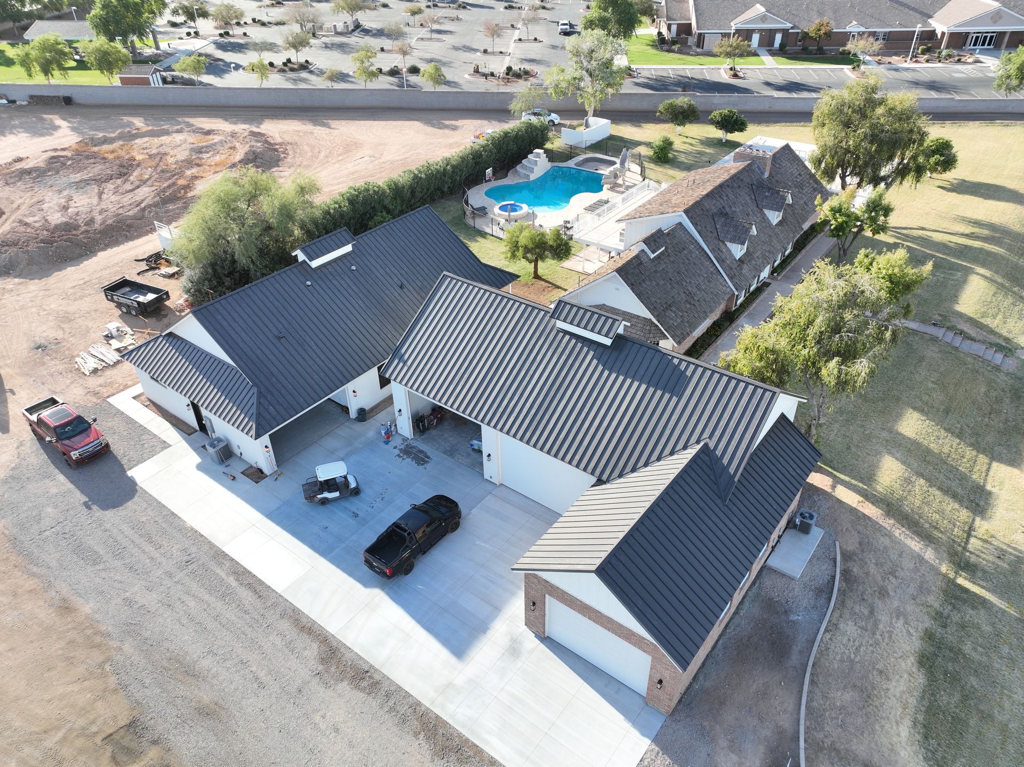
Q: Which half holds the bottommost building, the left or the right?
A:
right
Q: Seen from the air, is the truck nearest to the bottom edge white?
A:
No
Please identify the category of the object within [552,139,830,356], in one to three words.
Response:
house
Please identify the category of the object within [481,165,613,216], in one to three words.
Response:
swimming pool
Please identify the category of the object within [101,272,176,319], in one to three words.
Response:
trailer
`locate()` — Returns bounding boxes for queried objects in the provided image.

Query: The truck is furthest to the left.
[22,396,113,470]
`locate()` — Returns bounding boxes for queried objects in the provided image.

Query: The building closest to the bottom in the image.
[511,413,824,714]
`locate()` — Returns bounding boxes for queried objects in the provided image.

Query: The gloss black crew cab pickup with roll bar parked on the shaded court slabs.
[362,488,470,582]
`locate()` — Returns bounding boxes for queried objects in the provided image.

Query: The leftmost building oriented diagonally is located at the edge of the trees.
[124,207,520,475]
